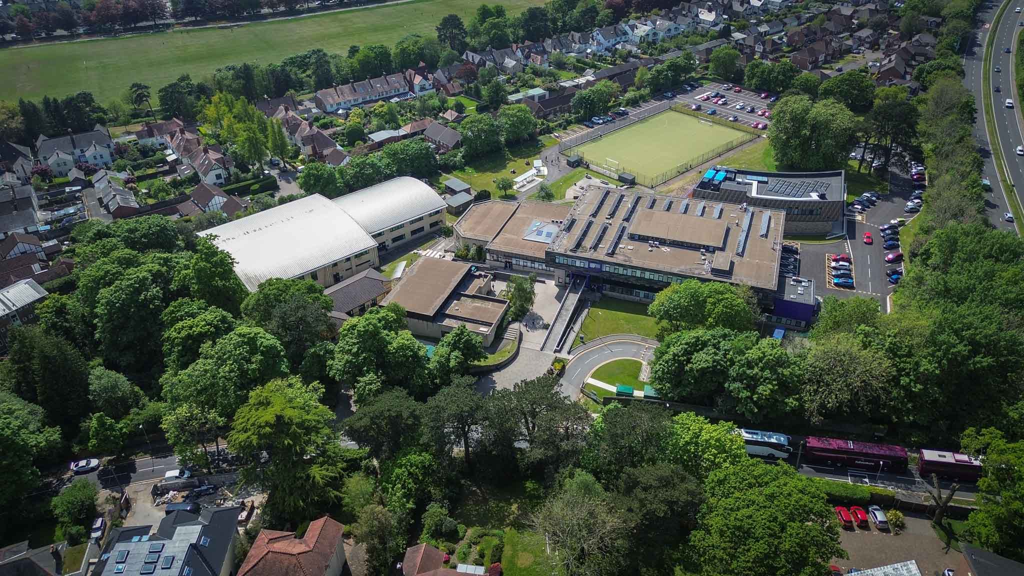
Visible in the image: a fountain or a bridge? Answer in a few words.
bridge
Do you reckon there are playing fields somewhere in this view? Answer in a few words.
Yes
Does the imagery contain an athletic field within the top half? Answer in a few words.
Yes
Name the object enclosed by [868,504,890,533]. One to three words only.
car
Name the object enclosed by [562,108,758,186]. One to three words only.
sports field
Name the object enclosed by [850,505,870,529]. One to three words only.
car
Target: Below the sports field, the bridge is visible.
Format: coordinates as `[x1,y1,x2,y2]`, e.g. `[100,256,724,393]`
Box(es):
[542,281,584,354]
